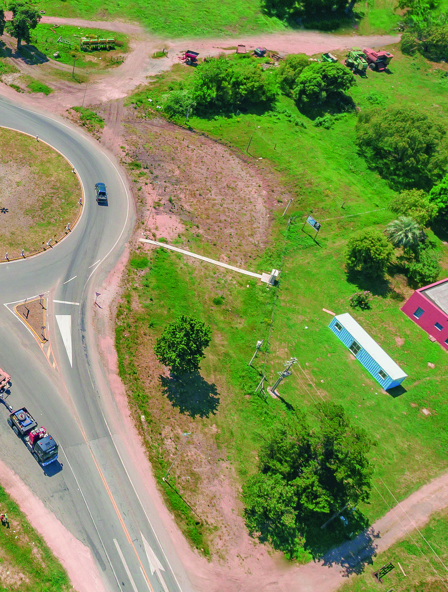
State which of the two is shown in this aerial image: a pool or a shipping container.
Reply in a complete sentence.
Looking from above, you can make out a shipping container.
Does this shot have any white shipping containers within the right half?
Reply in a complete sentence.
Yes, a white shipping container is visible within the right half.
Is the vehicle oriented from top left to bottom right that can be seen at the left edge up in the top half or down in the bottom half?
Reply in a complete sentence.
You can find the vehicle oriented from top left to bottom right that can be seen at the left edge in the bottom half.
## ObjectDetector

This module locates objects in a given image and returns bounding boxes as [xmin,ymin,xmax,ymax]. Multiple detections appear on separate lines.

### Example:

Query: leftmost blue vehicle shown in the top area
[96,181,109,203]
